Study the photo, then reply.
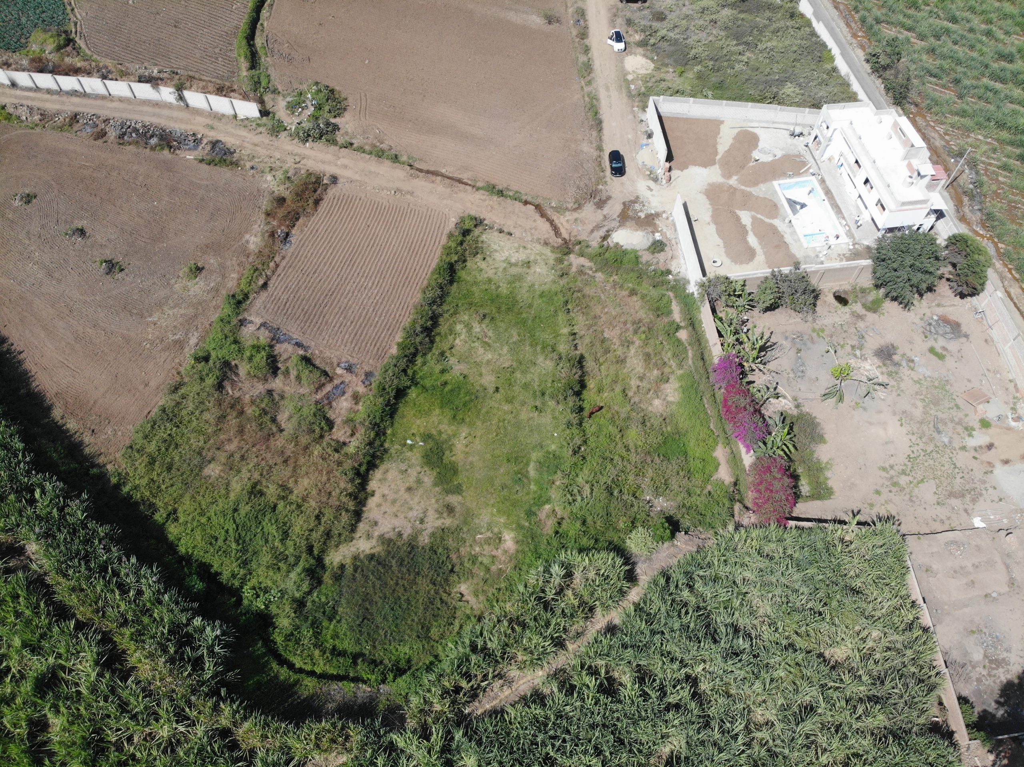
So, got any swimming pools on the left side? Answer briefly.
No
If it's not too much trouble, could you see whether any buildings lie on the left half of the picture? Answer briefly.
No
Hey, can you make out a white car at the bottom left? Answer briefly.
No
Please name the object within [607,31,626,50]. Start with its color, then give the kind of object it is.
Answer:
white car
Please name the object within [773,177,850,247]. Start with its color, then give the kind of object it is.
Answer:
white swimming pool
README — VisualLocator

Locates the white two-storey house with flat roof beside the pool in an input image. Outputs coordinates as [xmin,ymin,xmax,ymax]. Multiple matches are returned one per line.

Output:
[806,100,950,245]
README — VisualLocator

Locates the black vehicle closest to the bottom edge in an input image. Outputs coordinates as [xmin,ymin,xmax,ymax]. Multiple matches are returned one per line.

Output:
[608,149,625,175]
